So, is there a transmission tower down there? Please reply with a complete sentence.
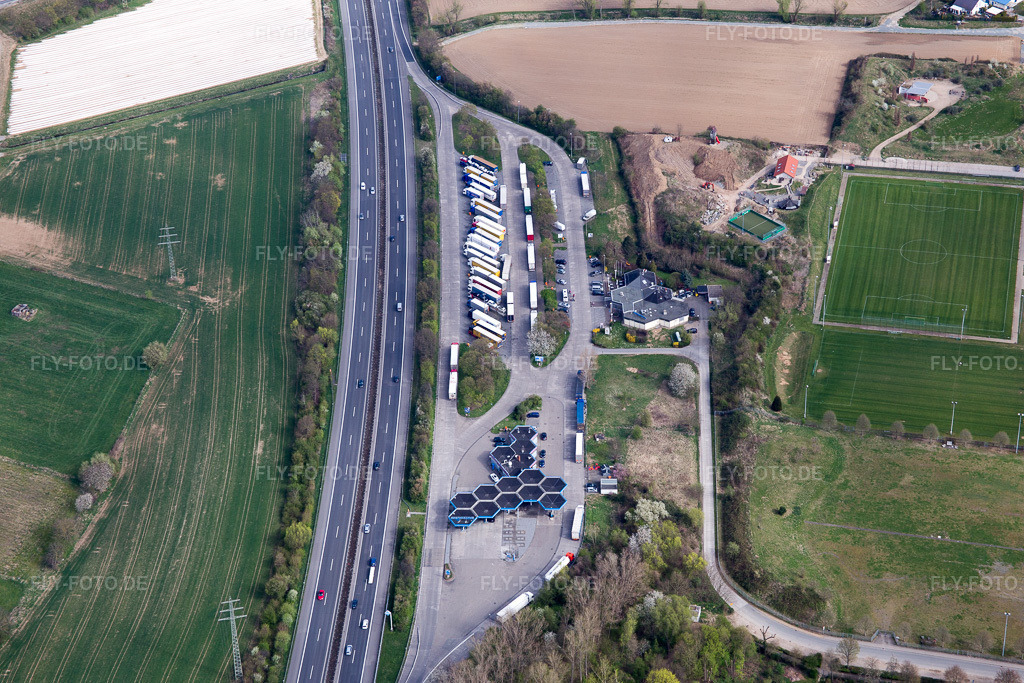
Yes, this view includes a transmission tower.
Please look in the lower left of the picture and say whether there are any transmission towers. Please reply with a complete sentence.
Yes, a transmission tower appears in the lower left of the picture.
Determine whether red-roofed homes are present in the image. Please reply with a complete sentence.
Yes, a red-roofed home is visible in the scene.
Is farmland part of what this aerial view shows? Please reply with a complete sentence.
Yes, some farmland is visible.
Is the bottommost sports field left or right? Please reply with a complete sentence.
The bottommost sports field appears in the right half of the scene.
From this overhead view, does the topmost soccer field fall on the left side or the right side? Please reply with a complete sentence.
The topmost soccer field sits on the right side.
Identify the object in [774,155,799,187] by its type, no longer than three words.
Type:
house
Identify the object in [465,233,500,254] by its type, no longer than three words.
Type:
truck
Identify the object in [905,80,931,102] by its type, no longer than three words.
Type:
barn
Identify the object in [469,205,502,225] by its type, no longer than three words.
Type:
vehicle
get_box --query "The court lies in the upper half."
[726,206,789,242]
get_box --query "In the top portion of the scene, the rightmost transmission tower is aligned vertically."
[156,217,183,282]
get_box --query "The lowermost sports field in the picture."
[804,328,1024,445]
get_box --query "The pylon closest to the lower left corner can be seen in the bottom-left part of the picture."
[215,603,249,683]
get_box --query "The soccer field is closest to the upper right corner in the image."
[812,176,1024,339]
